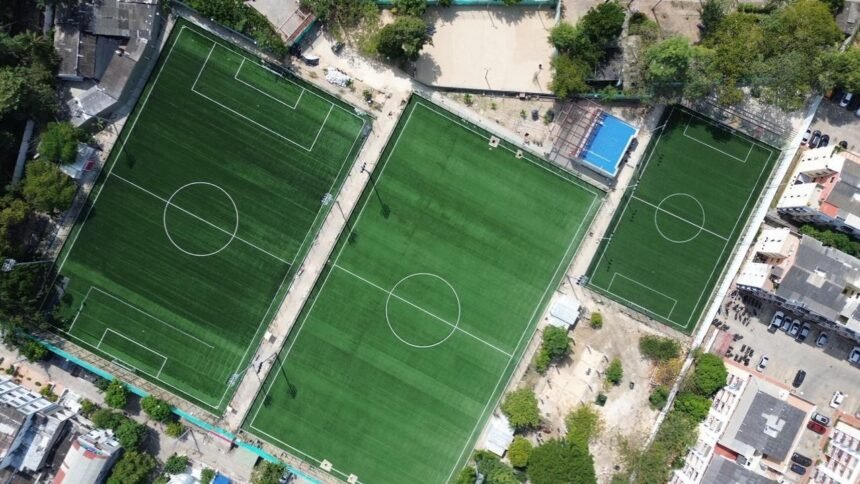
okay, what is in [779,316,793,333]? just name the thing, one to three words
vehicle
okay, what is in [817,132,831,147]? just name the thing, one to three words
vehicle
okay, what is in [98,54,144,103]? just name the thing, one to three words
building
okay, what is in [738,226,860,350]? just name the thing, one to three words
building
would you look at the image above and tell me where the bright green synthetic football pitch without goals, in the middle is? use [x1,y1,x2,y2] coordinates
[239,92,610,484]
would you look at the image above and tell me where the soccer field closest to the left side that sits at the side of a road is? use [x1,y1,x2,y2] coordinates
[31,15,373,418]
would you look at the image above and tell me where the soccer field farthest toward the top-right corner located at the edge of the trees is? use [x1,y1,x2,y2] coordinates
[585,101,782,338]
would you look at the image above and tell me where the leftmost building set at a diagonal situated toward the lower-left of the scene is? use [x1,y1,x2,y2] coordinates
[10,410,74,484]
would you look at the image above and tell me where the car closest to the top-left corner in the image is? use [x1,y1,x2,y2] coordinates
[330,39,345,56]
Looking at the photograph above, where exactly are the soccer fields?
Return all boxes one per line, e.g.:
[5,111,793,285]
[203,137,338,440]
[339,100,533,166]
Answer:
[585,101,782,338]
[239,92,610,484]
[31,15,373,418]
